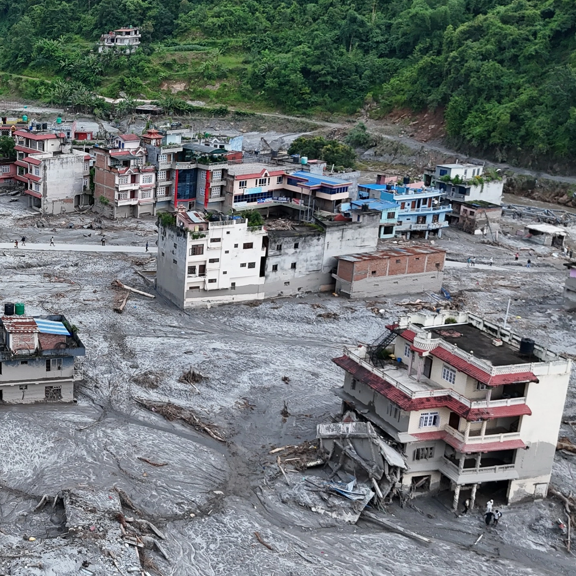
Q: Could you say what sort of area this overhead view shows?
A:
residential area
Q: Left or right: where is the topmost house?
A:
left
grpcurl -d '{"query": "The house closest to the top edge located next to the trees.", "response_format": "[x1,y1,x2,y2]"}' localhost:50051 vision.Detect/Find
[103,27,140,54]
